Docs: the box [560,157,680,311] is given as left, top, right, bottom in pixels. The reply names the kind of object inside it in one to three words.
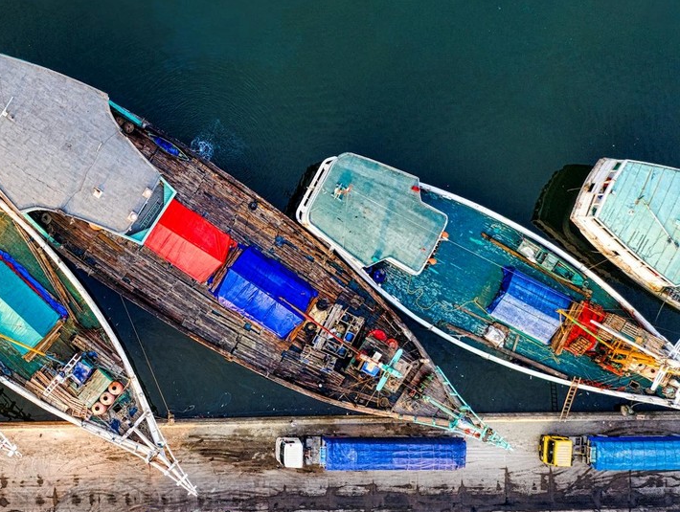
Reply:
boat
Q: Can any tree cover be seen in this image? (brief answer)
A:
No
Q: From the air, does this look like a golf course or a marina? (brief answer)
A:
marina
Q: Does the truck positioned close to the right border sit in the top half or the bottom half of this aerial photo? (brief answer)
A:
bottom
